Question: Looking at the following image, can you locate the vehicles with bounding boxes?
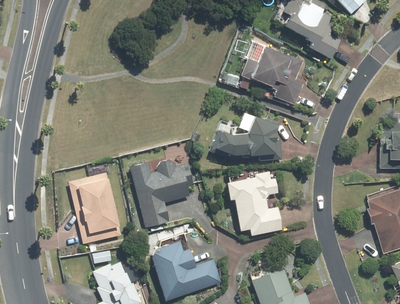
[6,205,15,222]
[279,124,290,142]
[300,98,316,109]
[362,243,378,258]
[64,216,77,232]
[346,68,358,83]
[316,195,324,211]
[194,252,210,264]
[66,237,80,246]
[335,84,348,102]
[334,52,350,66]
